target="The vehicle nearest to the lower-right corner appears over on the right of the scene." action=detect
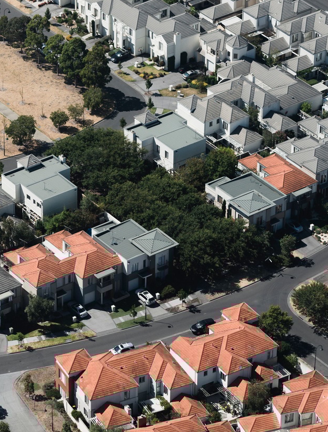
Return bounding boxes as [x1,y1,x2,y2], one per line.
[189,314,217,330]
